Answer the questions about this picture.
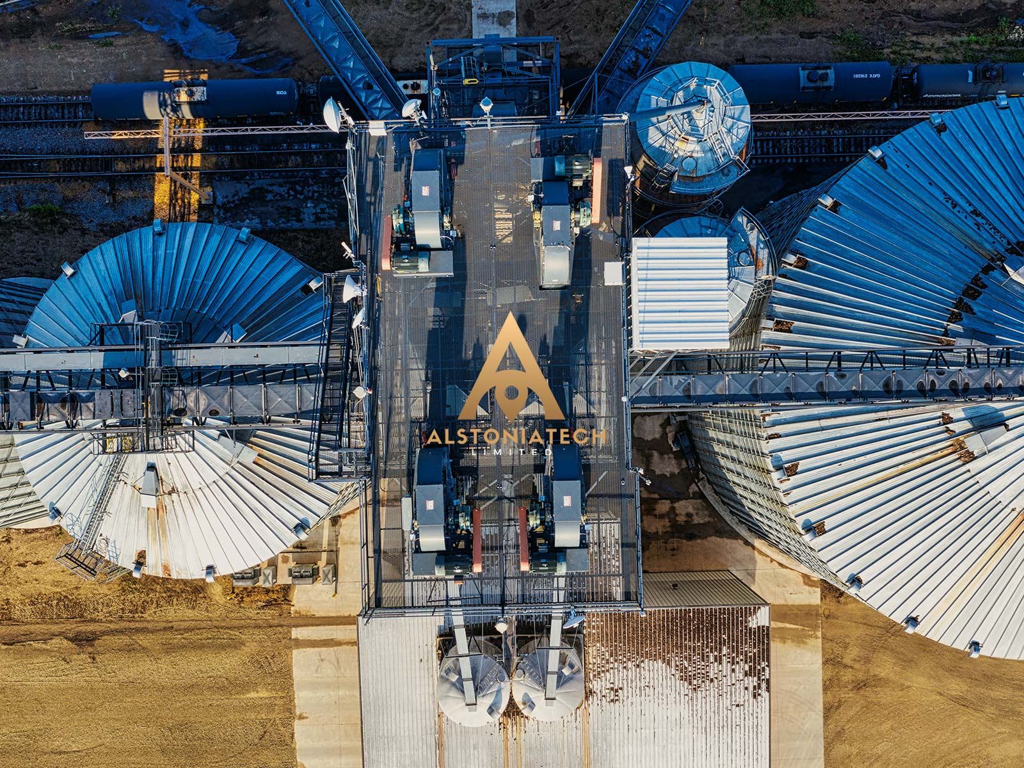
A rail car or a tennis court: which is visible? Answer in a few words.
rail car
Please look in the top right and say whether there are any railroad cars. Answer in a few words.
Yes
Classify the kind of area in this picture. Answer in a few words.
industrial area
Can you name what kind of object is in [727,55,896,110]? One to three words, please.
rail car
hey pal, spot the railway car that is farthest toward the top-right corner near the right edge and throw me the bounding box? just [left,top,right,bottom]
[894,51,1024,108]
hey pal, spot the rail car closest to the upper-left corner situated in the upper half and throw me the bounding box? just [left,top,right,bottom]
[91,72,312,128]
